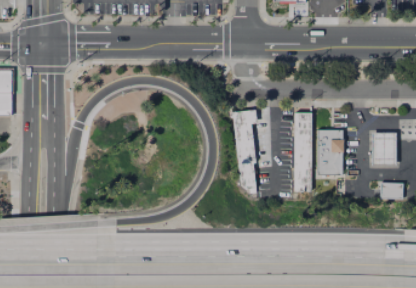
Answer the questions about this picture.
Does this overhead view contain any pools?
No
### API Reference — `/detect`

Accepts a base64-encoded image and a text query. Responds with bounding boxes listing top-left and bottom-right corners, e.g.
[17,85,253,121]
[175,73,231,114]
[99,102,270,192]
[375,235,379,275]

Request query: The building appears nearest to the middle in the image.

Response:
[234,110,258,194]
